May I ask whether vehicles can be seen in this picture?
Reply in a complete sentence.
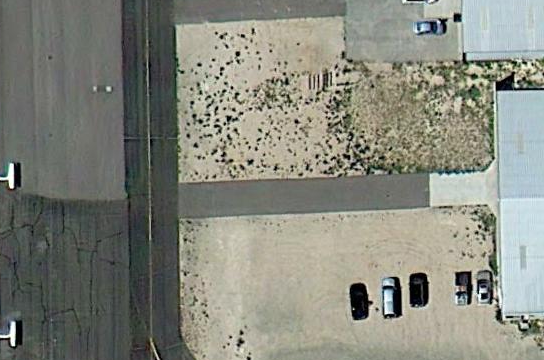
Yes, I can see a vehicle in this picture.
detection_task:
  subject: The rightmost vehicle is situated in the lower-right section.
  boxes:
[476,271,492,305]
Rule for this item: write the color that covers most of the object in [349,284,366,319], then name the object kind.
black car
